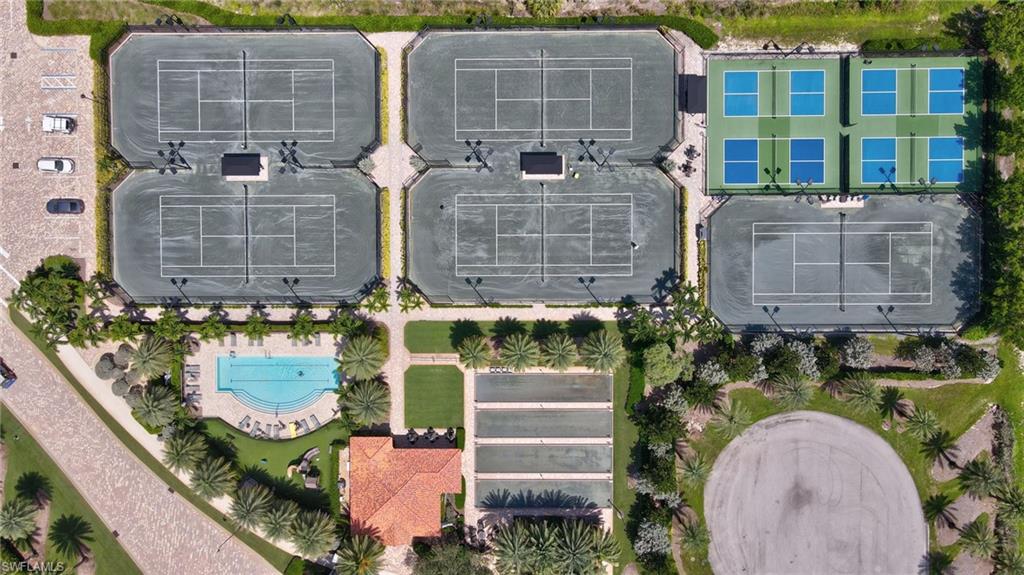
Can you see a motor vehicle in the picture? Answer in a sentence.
Yes, the image includes a motor vehicle.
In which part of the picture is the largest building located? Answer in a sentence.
You can find the largest building in the bottom area of the picture.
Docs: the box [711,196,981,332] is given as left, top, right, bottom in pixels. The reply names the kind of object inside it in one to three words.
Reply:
tennis court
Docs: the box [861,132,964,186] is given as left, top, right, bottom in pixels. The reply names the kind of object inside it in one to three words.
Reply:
sports court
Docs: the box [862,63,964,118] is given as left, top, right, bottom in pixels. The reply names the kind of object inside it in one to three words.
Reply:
sports court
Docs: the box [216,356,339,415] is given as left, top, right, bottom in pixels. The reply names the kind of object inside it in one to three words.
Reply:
swimming pool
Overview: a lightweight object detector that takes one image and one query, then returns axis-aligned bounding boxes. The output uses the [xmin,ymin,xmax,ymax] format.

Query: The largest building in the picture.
[350,436,461,548]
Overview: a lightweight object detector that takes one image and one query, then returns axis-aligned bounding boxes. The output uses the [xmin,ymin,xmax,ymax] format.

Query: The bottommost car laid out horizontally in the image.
[47,198,85,214]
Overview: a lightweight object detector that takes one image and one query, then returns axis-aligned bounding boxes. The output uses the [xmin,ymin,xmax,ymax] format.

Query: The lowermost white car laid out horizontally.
[37,156,76,173]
